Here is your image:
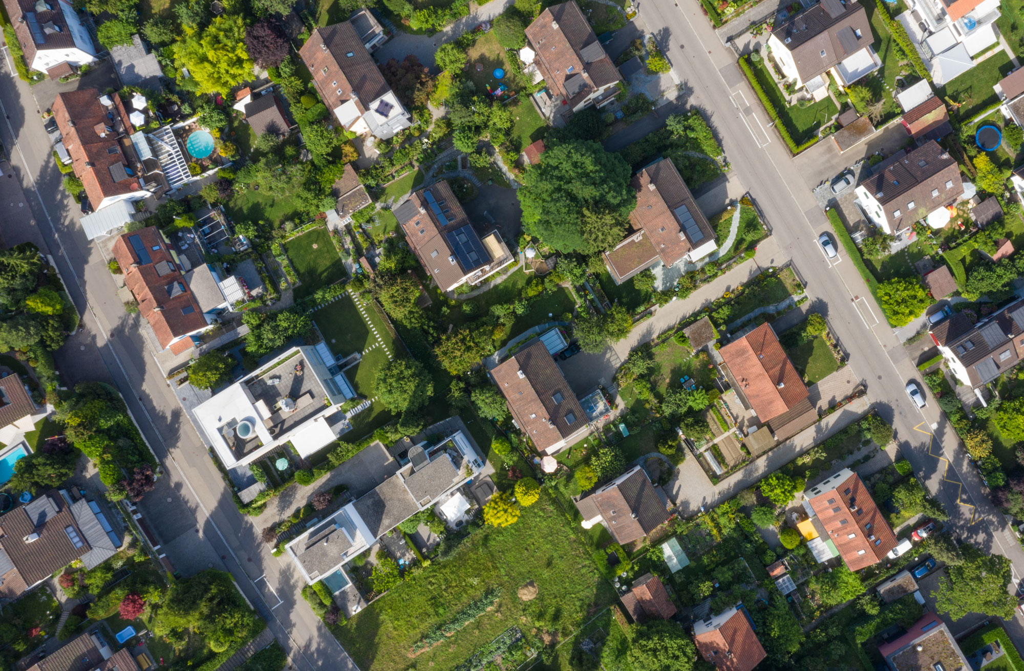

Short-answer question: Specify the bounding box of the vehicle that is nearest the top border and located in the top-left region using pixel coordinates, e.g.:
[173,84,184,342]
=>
[37,111,57,134]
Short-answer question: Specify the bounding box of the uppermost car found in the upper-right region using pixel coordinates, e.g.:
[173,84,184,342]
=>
[828,172,855,193]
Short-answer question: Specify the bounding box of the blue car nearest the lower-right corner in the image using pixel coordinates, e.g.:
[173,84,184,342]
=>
[910,557,938,581]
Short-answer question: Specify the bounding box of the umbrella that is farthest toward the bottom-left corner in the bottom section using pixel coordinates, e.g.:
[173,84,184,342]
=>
[275,457,289,470]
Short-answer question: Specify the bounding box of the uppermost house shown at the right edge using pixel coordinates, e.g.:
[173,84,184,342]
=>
[902,0,1001,45]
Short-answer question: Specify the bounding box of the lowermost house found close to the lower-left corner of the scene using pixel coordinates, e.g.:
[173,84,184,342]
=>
[29,623,149,671]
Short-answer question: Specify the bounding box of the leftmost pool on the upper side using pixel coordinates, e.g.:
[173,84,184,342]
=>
[187,130,218,160]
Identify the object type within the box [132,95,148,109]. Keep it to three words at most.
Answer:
umbrella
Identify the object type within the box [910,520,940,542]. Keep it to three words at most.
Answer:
car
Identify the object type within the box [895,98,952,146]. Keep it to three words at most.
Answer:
building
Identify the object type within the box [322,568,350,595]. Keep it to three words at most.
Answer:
swimming pool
